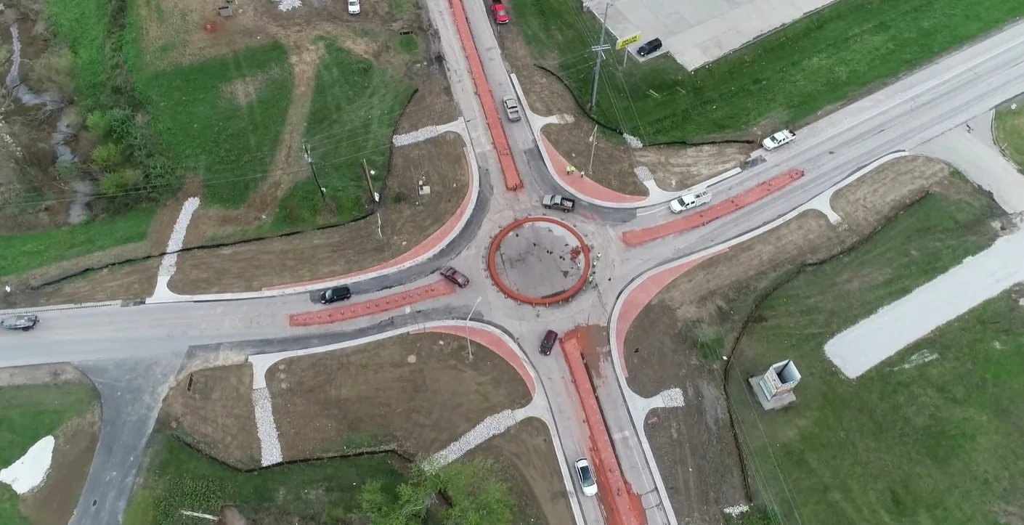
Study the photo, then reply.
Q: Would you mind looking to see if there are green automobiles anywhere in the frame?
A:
No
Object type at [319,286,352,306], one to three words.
car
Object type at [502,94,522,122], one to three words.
vehicle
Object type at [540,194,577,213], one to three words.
vehicle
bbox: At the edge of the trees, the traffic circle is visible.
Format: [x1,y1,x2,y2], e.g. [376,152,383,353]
[261,0,804,525]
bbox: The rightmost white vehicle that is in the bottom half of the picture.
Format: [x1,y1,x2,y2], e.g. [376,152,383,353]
[574,458,598,498]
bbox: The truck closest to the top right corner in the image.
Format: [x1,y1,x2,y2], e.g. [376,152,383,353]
[761,128,798,151]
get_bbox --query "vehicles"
[761,128,798,151]
[347,0,360,12]
[439,264,471,290]
[574,458,598,498]
[319,286,352,306]
[538,327,560,359]
[635,35,664,57]
[540,194,577,213]
[502,94,522,122]
[670,187,714,211]
[491,0,507,22]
